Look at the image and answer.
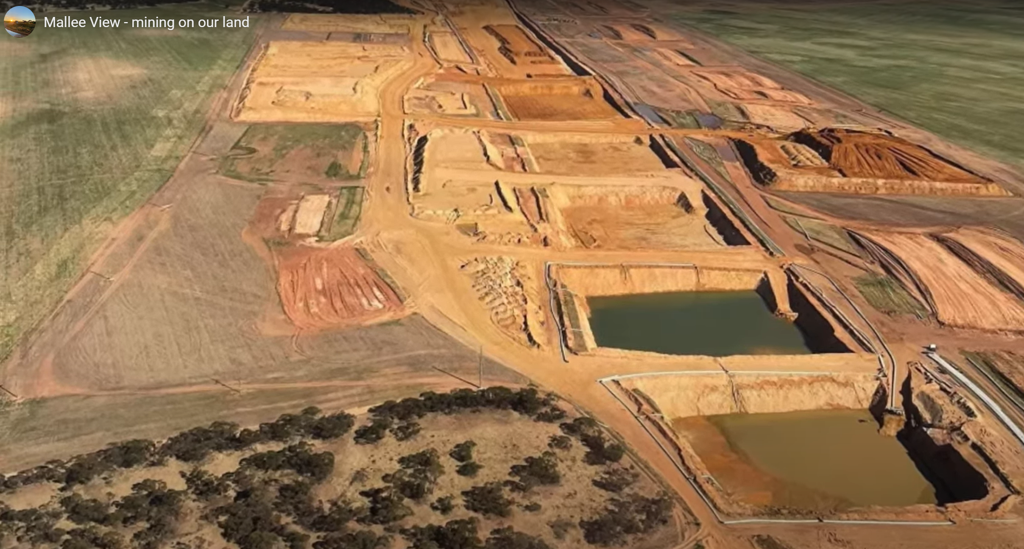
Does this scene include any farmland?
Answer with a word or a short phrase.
Yes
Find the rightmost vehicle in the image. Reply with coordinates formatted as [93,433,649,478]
[925,341,939,355]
